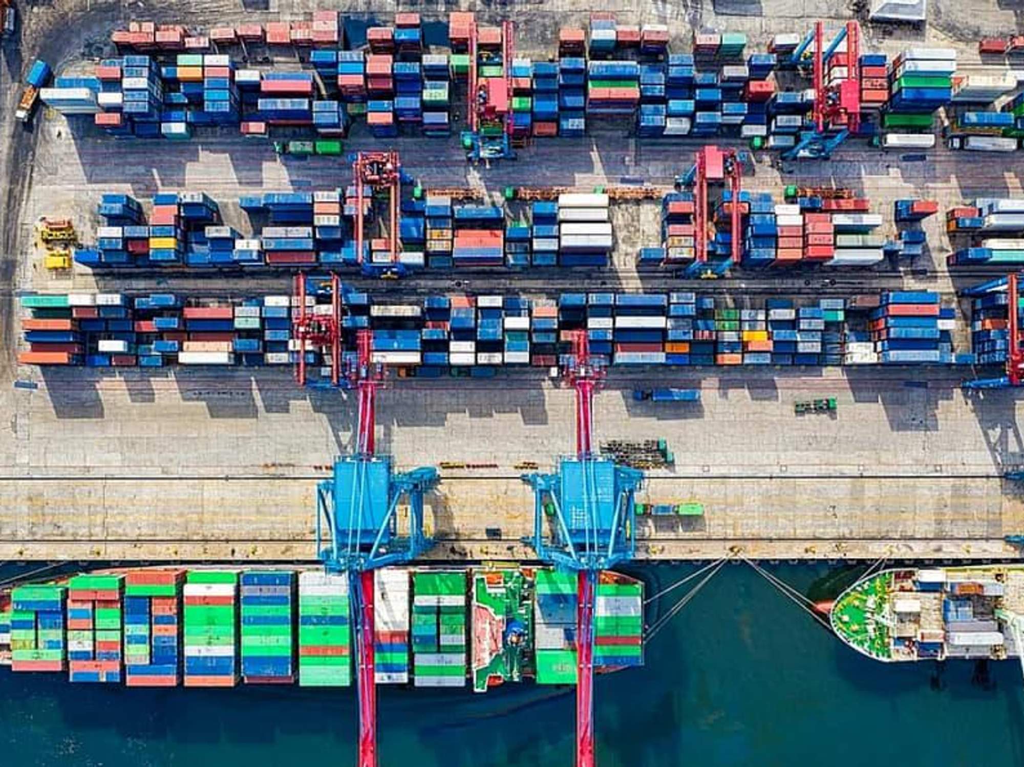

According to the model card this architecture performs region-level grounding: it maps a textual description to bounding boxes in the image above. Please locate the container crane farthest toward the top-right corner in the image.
[780,23,860,166]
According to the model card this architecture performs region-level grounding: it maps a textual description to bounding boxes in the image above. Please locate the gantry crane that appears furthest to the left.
[294,273,362,394]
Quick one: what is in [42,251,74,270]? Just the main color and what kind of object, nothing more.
yellow work vehicle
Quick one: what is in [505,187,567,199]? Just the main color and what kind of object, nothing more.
green vehicle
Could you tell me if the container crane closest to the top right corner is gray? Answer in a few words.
No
